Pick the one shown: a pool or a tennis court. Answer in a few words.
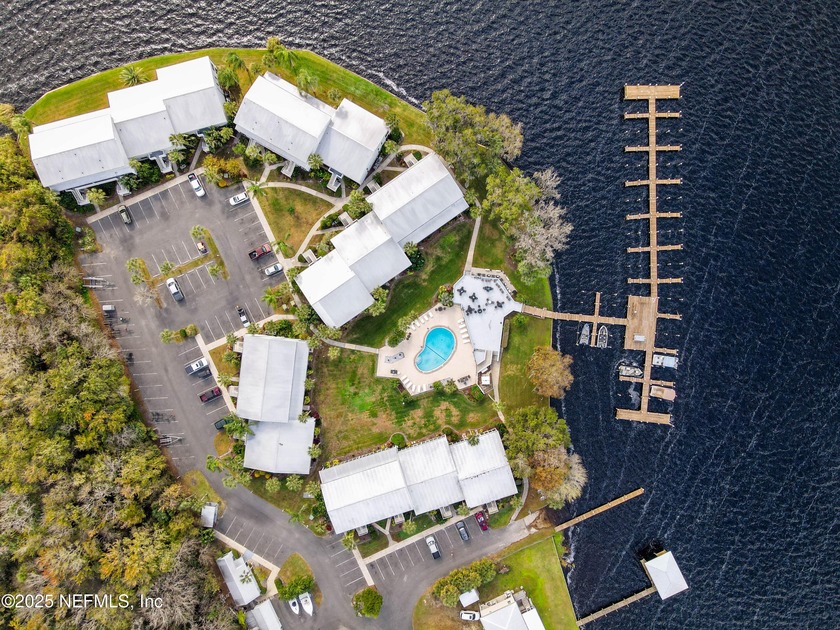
pool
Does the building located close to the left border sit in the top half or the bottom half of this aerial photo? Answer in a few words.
top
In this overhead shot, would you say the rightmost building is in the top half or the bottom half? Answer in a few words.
bottom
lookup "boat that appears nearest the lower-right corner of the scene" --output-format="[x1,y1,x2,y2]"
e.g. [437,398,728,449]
[650,386,678,400]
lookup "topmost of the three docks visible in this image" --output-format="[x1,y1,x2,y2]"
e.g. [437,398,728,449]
[523,84,682,426]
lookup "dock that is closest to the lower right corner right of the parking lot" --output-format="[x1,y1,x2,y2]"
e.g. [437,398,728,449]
[576,583,658,628]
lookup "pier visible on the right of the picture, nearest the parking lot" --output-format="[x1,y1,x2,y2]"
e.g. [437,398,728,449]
[554,488,644,531]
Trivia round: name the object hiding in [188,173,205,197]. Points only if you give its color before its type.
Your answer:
white vehicle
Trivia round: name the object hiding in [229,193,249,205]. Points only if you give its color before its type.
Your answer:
white vehicle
